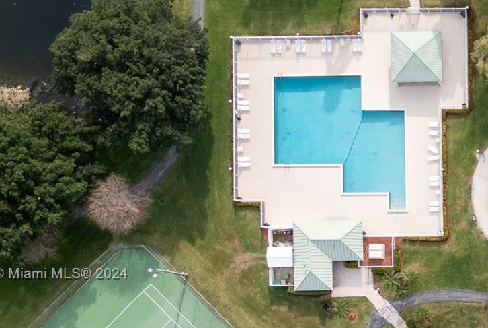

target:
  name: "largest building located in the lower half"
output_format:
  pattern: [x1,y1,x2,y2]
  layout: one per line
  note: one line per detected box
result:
[293,221,363,291]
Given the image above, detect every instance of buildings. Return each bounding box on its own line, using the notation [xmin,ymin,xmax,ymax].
[293,221,363,291]
[390,29,443,87]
